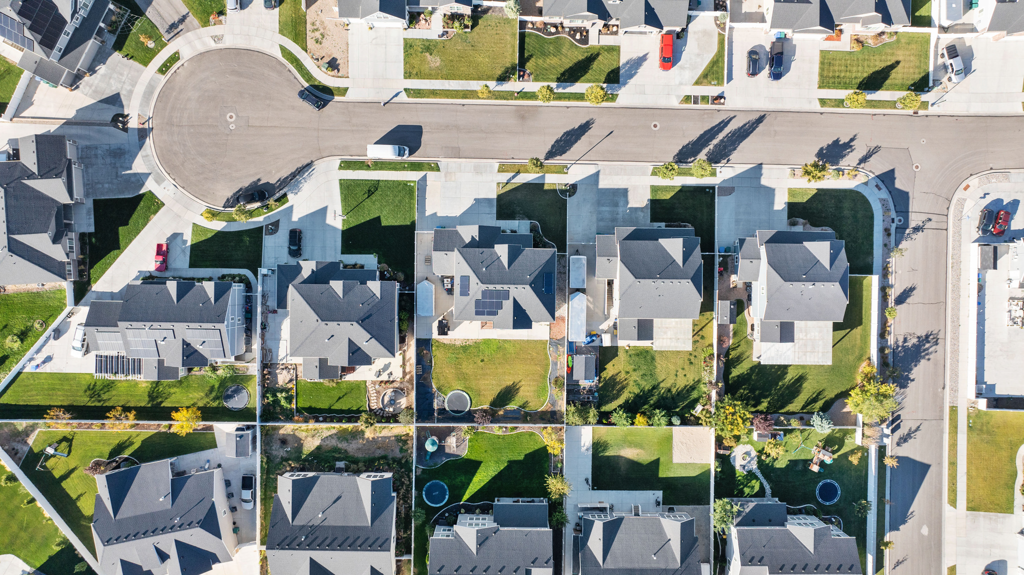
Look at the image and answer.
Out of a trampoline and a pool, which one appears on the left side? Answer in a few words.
trampoline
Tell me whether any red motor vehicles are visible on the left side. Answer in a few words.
Yes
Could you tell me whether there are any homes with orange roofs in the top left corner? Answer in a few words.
No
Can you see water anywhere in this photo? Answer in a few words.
No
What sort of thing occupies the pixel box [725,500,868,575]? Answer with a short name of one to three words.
house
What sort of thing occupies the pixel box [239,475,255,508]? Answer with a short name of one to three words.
vehicle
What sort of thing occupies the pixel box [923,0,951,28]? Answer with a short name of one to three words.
camper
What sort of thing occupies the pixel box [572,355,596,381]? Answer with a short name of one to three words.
shed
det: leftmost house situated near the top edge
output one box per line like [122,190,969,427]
[0,0,124,89]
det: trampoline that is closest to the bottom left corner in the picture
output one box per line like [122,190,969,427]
[222,383,251,411]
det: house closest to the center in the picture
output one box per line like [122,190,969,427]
[431,224,557,330]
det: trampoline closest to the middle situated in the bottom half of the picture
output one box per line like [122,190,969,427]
[444,388,471,415]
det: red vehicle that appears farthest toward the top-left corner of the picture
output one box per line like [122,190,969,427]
[152,241,170,273]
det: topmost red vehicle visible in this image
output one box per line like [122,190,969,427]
[658,33,674,71]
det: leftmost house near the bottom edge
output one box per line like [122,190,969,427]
[89,459,239,575]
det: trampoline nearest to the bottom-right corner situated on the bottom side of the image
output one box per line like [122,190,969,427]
[814,479,841,505]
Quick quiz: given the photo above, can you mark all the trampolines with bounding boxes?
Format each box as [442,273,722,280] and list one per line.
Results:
[444,388,471,415]
[814,479,841,505]
[222,383,251,411]
[422,479,449,506]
